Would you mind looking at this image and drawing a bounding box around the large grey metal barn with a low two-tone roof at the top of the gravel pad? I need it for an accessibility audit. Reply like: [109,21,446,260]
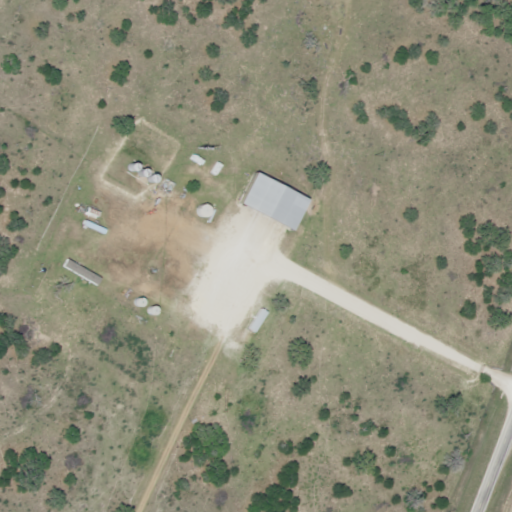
[241,172,311,230]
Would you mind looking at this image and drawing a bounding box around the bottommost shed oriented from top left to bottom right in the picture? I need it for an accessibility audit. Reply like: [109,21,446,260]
[64,259,102,285]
